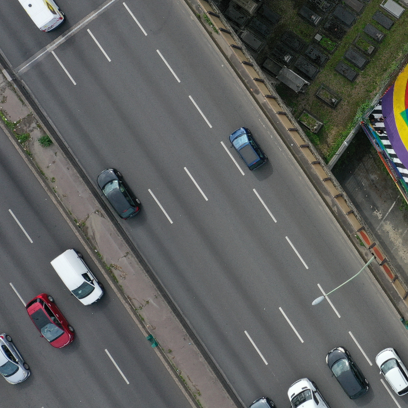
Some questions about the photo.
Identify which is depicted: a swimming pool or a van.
van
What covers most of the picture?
paved ground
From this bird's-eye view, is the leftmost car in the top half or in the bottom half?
bottom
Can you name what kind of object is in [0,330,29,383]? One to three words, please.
car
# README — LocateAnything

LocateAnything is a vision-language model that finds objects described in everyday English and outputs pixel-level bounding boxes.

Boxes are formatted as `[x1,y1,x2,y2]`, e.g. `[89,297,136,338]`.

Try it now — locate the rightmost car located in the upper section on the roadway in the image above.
[228,123,269,173]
